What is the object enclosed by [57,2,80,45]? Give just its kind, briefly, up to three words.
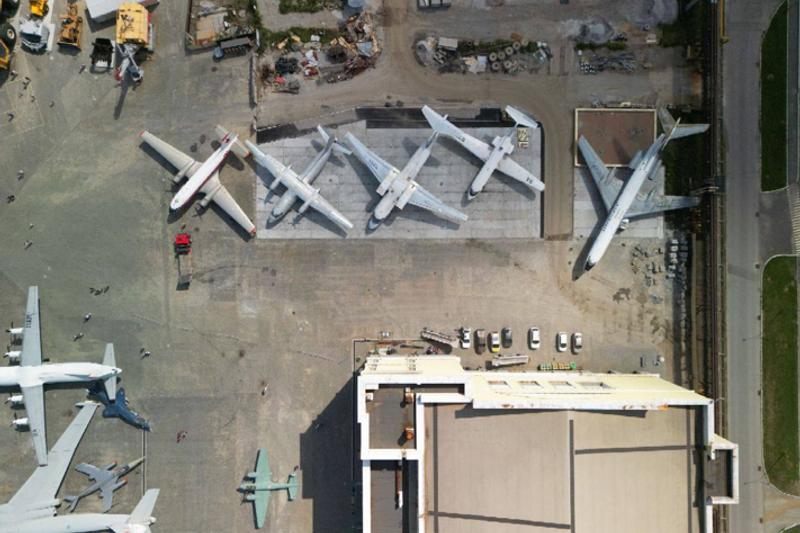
work vehicle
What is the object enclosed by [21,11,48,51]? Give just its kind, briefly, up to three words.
truck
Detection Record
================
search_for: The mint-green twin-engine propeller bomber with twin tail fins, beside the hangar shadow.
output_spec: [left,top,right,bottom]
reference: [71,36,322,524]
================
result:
[238,448,298,528]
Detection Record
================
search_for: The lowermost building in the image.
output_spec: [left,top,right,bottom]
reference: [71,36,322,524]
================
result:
[357,355,739,533]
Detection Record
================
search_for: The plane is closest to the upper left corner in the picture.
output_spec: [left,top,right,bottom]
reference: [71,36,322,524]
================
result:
[139,124,255,234]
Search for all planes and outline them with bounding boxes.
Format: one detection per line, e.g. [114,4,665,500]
[348,104,468,233]
[62,457,146,515]
[83,379,152,431]
[0,282,124,468]
[242,122,355,228]
[139,124,255,234]
[584,99,709,270]
[0,410,161,533]
[452,106,545,200]
[238,448,298,528]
